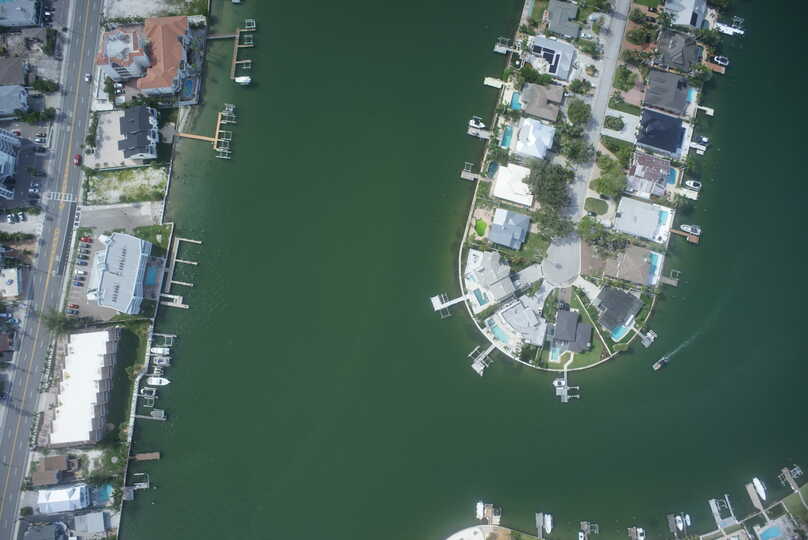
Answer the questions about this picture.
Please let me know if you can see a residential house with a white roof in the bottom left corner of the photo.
Yes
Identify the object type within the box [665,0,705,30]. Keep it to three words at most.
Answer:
house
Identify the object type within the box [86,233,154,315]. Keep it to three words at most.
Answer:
building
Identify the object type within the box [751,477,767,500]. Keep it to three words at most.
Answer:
boat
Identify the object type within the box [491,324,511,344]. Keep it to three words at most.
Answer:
swimming pool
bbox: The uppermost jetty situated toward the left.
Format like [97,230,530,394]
[208,27,257,80]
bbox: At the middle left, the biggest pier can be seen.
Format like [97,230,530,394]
[163,237,203,293]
